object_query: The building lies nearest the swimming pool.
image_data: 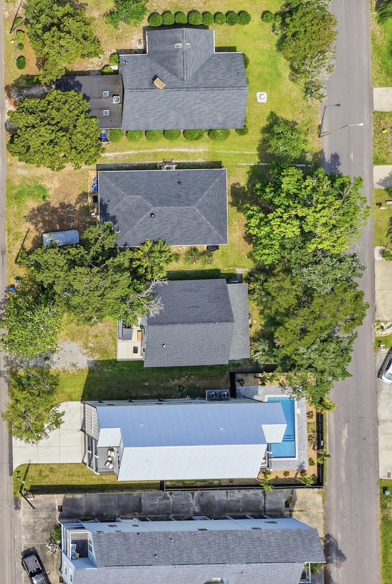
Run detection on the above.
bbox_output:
[76,401,288,482]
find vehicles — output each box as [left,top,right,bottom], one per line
[377,349,392,384]
[21,549,49,584]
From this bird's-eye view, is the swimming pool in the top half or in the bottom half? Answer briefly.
bottom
